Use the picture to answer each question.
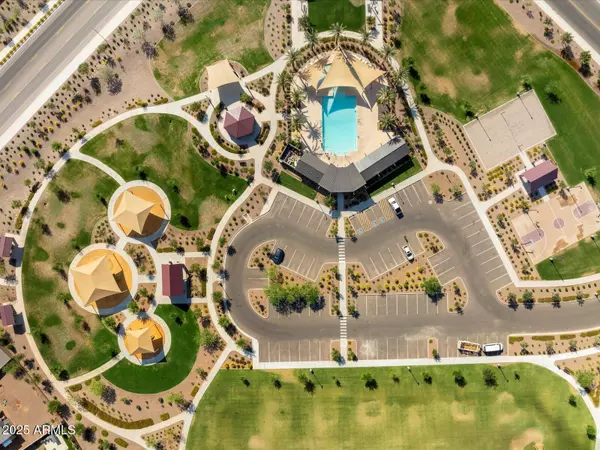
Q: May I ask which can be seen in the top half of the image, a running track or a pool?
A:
pool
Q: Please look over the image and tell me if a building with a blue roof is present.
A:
No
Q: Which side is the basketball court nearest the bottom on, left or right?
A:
right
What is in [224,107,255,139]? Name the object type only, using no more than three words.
building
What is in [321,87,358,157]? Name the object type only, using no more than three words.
swimming pool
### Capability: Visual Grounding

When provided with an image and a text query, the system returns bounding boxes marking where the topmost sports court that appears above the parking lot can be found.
[463,89,558,171]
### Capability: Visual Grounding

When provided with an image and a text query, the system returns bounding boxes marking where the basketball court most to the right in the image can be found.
[511,183,600,265]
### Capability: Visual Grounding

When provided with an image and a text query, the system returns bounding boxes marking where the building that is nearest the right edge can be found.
[519,161,559,192]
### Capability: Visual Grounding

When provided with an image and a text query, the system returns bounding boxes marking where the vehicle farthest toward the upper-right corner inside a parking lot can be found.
[390,196,405,216]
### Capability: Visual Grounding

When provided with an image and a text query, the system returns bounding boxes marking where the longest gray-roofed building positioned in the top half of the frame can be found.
[281,137,409,192]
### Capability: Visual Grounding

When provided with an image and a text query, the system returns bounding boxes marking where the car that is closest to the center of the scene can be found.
[271,247,284,265]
